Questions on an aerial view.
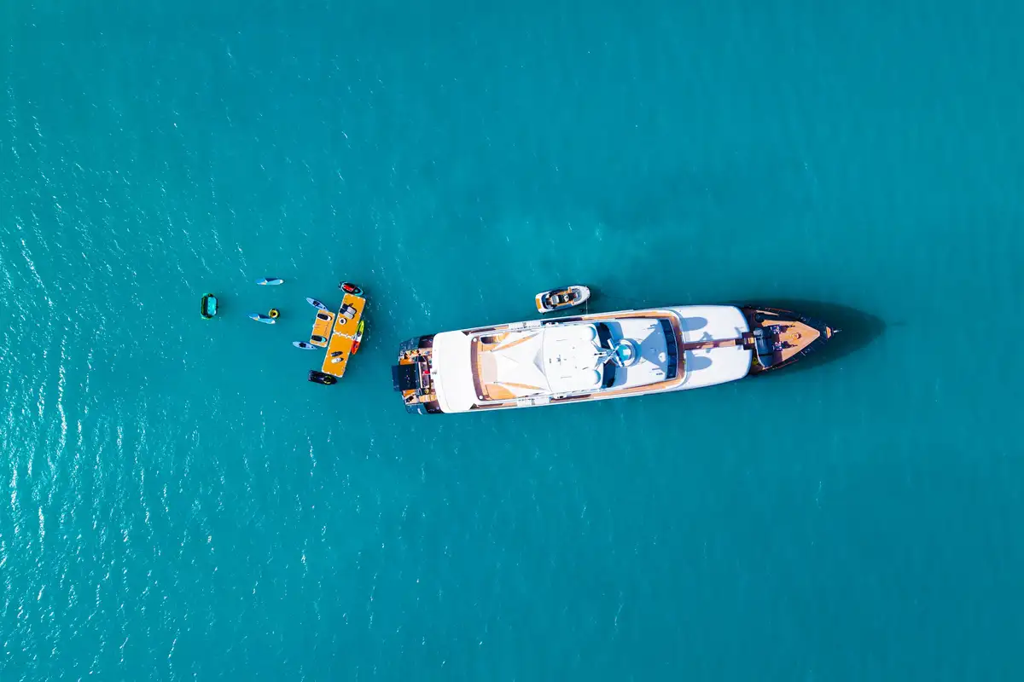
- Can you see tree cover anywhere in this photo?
No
